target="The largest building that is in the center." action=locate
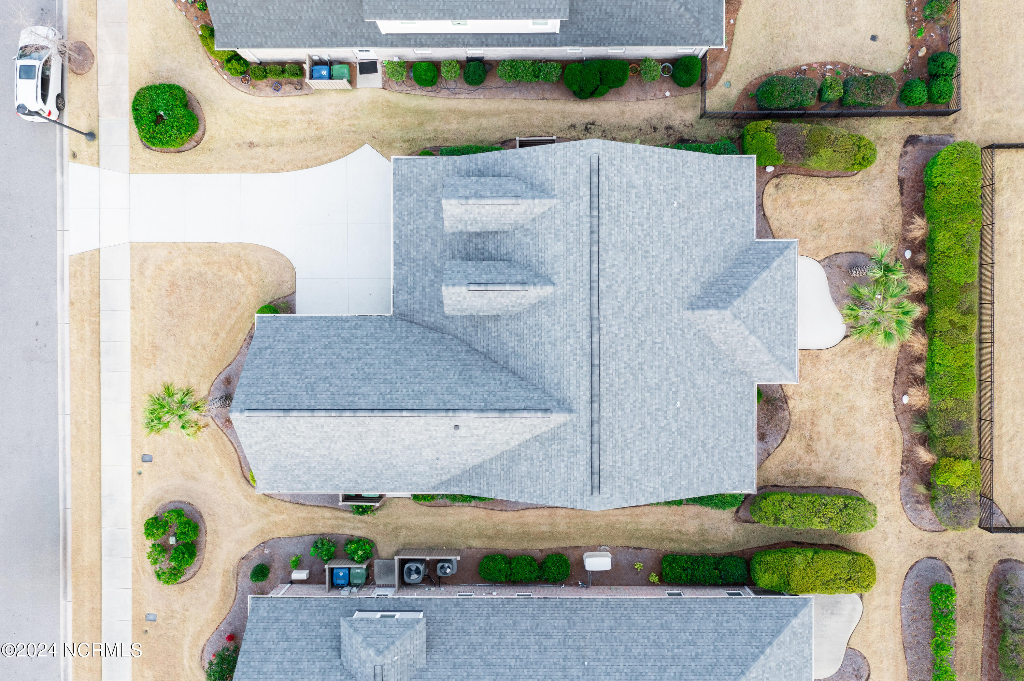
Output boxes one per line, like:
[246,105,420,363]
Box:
[231,138,800,511]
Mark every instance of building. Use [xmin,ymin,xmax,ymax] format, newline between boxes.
[231,138,800,511]
[234,549,813,681]
[205,0,725,87]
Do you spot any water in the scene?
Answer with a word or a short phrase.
No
